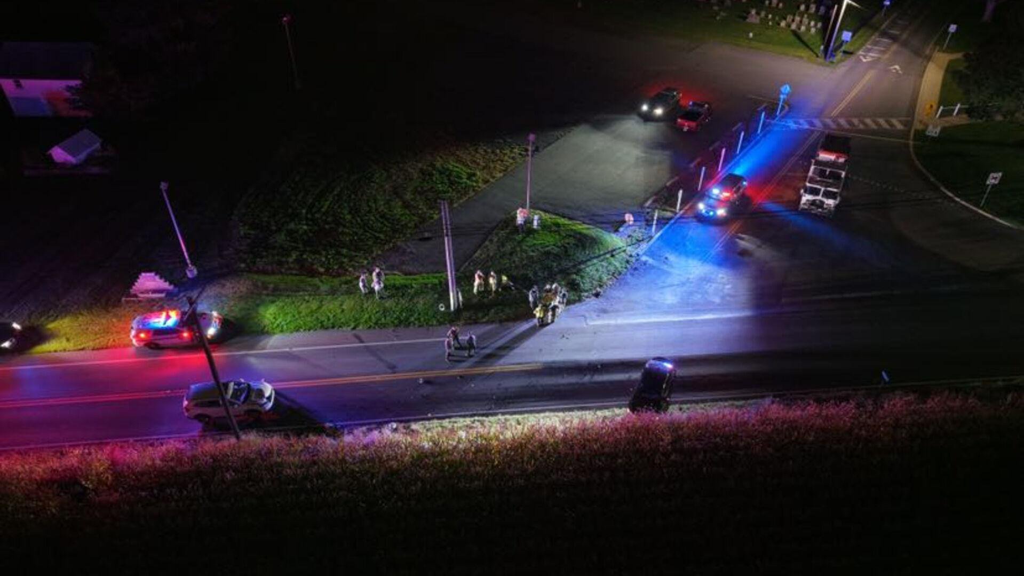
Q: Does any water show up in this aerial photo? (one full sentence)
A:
No, water can't be seen anywhere here.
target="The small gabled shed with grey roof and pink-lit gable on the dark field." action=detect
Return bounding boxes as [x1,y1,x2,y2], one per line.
[46,130,107,169]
